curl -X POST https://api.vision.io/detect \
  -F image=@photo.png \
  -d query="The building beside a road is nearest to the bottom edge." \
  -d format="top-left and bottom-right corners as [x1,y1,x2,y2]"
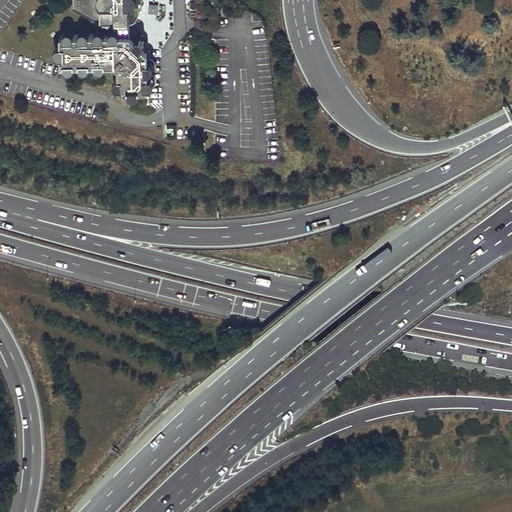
[51,36,153,106]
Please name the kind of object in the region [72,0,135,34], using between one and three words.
building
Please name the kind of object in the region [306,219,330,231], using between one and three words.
vehicle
